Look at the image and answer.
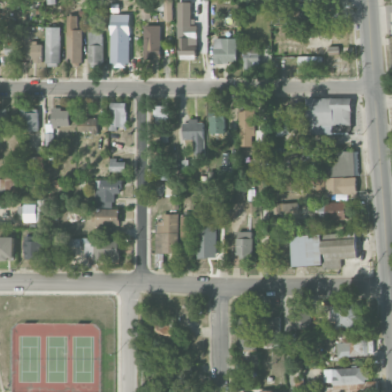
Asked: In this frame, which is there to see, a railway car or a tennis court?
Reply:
tennis court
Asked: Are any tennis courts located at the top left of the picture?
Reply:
No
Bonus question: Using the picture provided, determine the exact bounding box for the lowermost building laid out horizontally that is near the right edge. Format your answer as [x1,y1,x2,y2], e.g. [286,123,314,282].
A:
[324,368,377,392]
